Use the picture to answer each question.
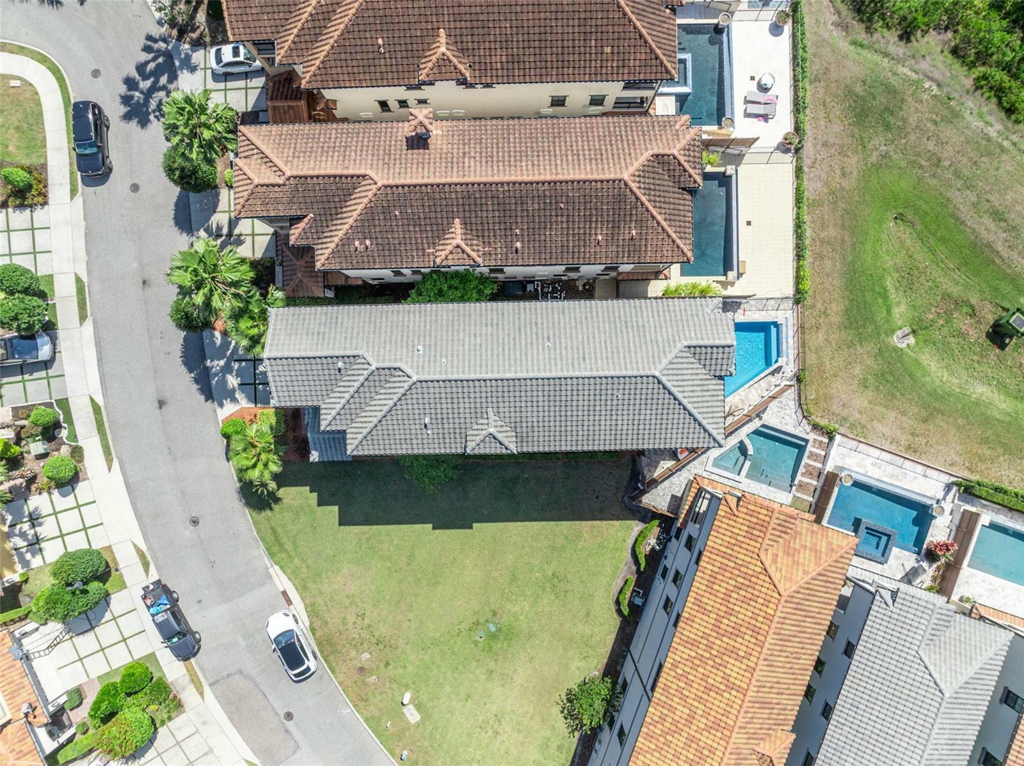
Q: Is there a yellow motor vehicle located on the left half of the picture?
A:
No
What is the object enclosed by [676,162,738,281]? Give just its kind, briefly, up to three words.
swimming pool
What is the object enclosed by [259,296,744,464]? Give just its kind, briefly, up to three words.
house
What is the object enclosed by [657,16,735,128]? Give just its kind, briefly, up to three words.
swimming pool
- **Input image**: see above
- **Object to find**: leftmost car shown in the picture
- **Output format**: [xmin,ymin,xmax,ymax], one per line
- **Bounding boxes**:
[0,330,53,366]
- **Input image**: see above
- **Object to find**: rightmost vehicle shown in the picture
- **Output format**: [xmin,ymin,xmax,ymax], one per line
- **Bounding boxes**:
[264,608,321,687]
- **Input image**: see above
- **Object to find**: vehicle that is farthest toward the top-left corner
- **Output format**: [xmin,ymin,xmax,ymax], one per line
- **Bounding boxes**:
[67,95,114,180]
